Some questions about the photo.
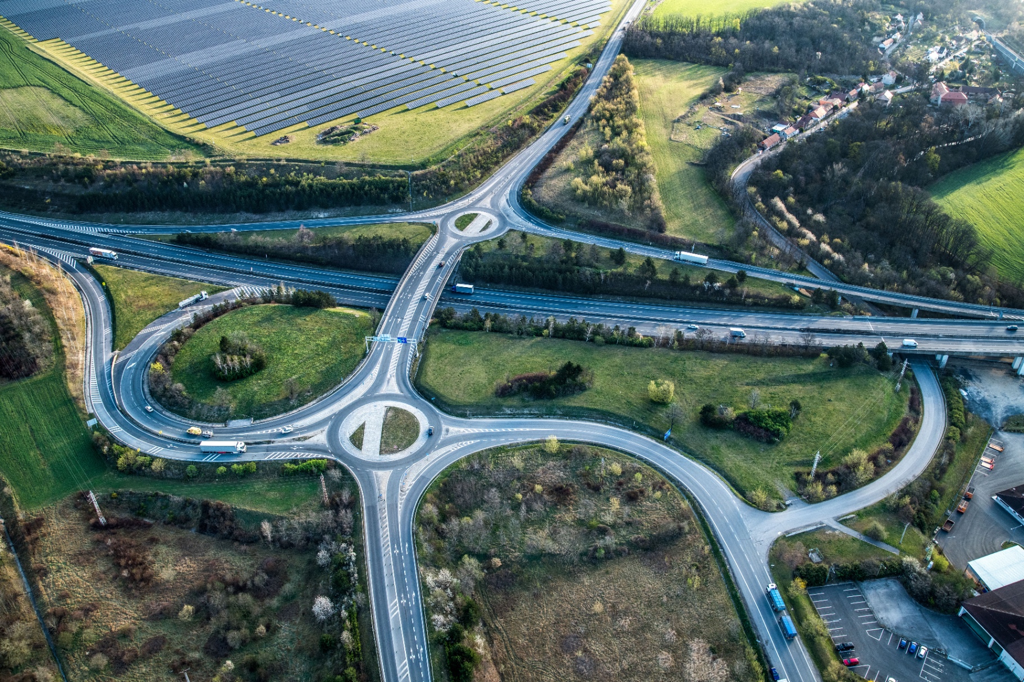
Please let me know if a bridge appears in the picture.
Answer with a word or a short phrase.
Yes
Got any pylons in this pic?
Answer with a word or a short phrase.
Yes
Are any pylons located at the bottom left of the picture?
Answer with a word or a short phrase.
Yes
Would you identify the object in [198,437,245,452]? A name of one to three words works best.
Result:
vehicle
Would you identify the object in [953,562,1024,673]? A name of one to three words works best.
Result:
building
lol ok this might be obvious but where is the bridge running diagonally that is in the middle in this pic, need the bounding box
[375,231,466,334]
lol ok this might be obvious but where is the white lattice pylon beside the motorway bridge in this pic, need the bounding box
[894,360,912,393]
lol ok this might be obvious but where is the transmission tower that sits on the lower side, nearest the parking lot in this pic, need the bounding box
[808,451,824,478]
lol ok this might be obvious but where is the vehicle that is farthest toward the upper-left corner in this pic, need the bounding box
[86,245,119,260]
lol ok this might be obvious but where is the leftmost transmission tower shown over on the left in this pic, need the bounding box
[83,491,106,527]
